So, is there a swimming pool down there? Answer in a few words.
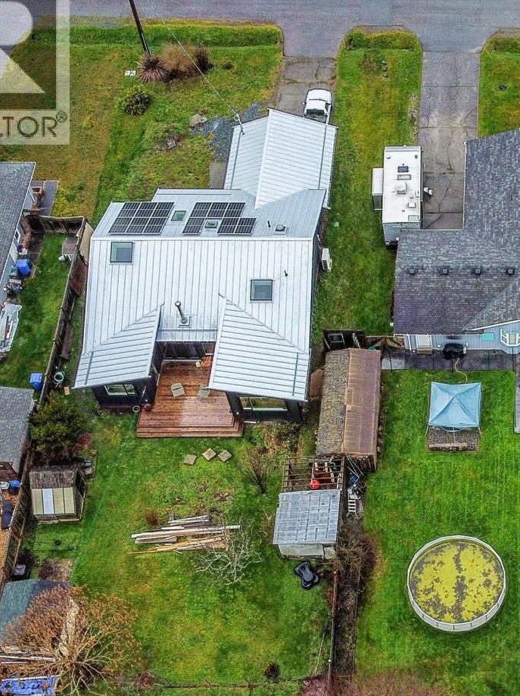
Yes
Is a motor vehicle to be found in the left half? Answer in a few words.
No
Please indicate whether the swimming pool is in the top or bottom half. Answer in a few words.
bottom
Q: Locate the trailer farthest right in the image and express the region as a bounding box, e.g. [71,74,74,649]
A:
[371,152,425,250]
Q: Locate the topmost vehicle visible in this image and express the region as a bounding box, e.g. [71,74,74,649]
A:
[299,80,332,118]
